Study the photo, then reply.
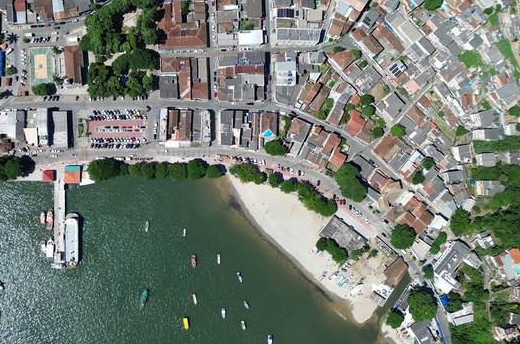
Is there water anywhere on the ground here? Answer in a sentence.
Yes, some water is visible.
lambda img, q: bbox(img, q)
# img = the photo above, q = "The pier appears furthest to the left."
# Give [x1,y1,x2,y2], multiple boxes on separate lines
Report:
[53,179,67,268]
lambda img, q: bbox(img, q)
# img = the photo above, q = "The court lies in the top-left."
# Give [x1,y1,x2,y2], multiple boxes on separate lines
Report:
[29,46,53,83]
